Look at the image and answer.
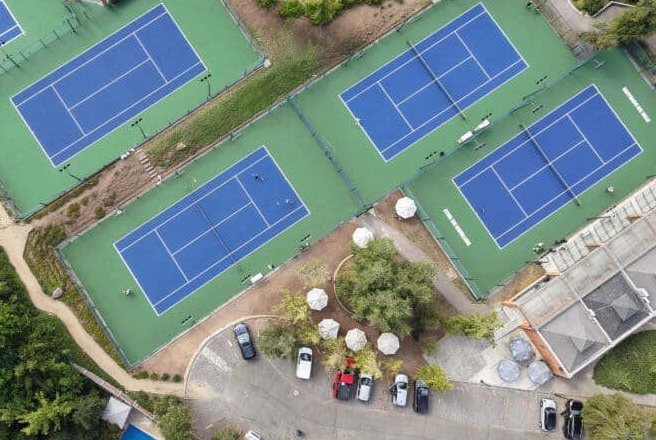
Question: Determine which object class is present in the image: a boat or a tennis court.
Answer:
tennis court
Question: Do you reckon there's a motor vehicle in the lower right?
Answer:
Yes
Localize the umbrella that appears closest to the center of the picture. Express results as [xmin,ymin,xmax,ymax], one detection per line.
[351,226,372,247]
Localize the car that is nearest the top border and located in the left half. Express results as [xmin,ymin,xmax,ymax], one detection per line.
[234,322,256,361]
